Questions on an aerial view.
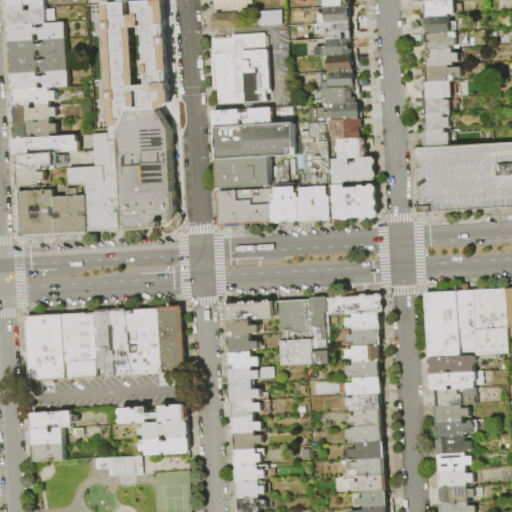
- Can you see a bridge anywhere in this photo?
No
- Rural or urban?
urban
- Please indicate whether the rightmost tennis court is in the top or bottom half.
bottom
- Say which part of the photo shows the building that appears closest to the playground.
bottom left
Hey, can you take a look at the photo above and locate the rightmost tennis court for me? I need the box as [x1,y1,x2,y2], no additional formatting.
[156,471,192,512]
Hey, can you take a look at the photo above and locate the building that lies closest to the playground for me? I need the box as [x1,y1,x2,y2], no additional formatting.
[96,456,144,478]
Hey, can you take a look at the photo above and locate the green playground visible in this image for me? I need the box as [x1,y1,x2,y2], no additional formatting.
[84,486,120,512]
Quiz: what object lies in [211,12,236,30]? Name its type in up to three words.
house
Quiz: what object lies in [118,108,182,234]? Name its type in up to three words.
building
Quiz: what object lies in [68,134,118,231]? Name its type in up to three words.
building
